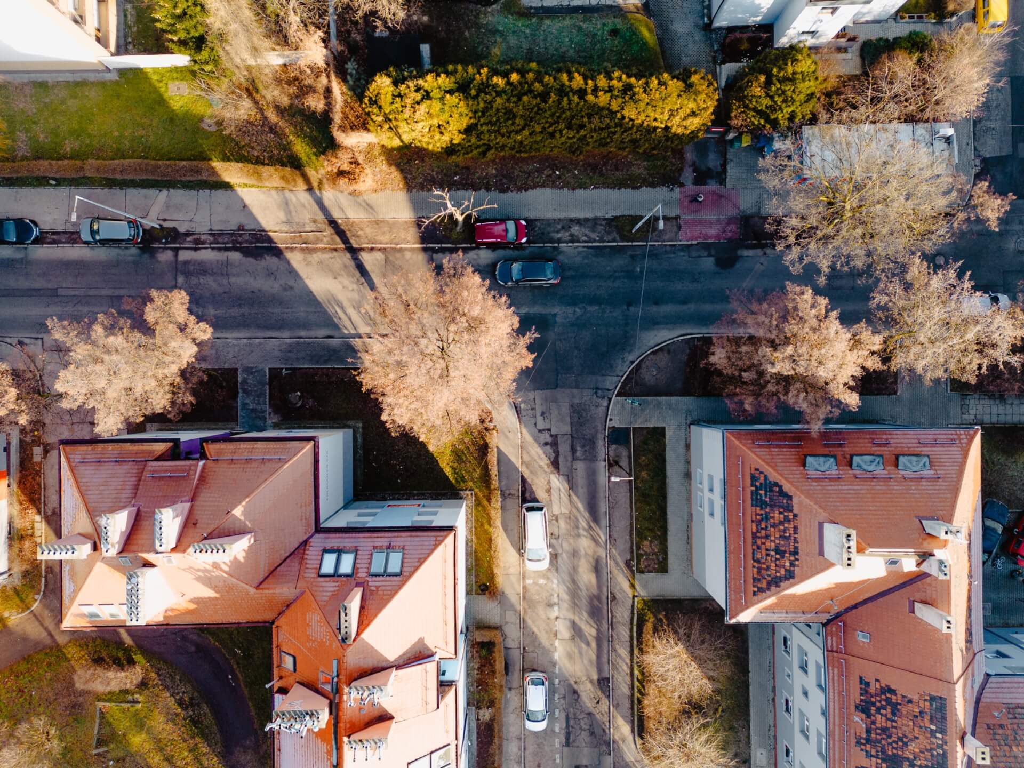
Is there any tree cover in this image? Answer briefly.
Yes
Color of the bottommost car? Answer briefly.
white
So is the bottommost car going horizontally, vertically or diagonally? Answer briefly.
vertically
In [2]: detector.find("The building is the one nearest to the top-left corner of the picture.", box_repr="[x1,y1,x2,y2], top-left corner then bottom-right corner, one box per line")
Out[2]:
[0,0,118,70]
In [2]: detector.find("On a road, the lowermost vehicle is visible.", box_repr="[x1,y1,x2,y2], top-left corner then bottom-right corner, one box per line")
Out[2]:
[522,669,550,728]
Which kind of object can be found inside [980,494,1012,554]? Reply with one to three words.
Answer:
car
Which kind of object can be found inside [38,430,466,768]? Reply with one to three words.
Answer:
house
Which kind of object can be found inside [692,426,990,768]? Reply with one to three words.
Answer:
house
